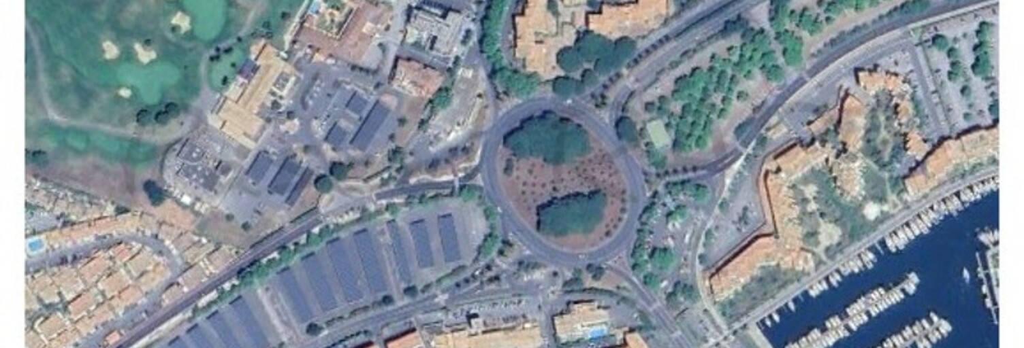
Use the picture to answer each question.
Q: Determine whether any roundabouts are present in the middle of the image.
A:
Yes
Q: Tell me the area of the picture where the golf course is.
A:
top left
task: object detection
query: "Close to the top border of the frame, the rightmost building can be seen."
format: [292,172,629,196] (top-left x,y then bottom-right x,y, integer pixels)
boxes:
[588,0,670,39]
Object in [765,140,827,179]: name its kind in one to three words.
building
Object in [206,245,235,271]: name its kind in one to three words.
house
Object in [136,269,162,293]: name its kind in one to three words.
house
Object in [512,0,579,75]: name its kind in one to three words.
building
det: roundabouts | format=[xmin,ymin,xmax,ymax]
[477,95,651,281]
